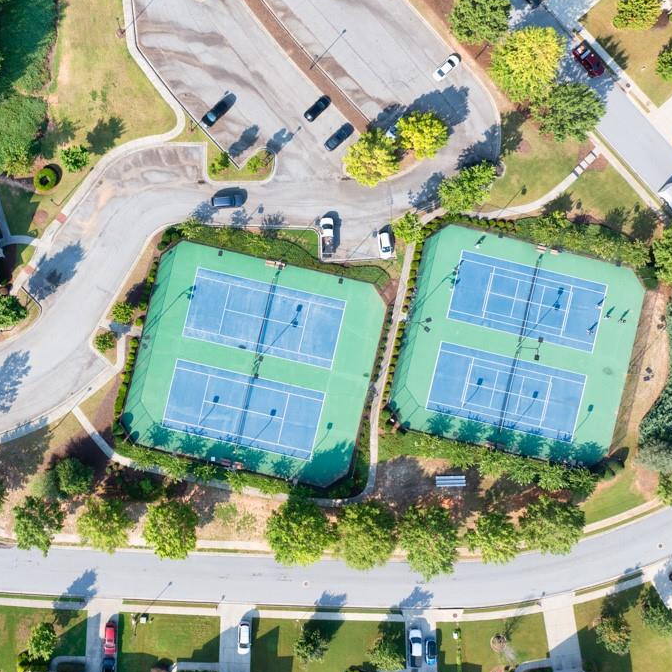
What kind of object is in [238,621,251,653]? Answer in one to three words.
vehicle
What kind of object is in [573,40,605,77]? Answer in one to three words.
truck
